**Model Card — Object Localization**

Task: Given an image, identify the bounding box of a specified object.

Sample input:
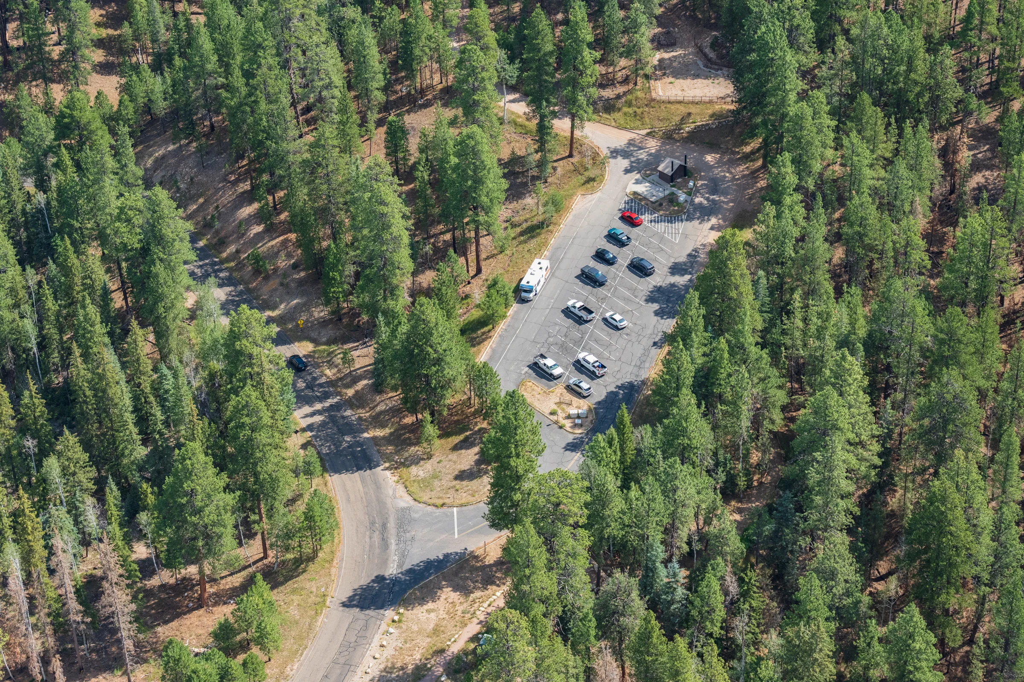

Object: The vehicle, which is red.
[620,210,644,225]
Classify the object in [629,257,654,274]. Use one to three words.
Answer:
car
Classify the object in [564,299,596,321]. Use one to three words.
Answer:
truck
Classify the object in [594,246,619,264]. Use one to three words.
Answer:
car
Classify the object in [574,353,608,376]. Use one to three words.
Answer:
truck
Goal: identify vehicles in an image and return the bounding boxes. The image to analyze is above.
[580,264,609,286]
[594,246,619,264]
[629,257,654,274]
[620,210,644,225]
[564,299,596,321]
[603,311,628,329]
[534,354,565,379]
[521,260,548,298]
[605,226,632,244]
[566,378,594,397]
[574,353,608,376]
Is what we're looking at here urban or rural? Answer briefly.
rural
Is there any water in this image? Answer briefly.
No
